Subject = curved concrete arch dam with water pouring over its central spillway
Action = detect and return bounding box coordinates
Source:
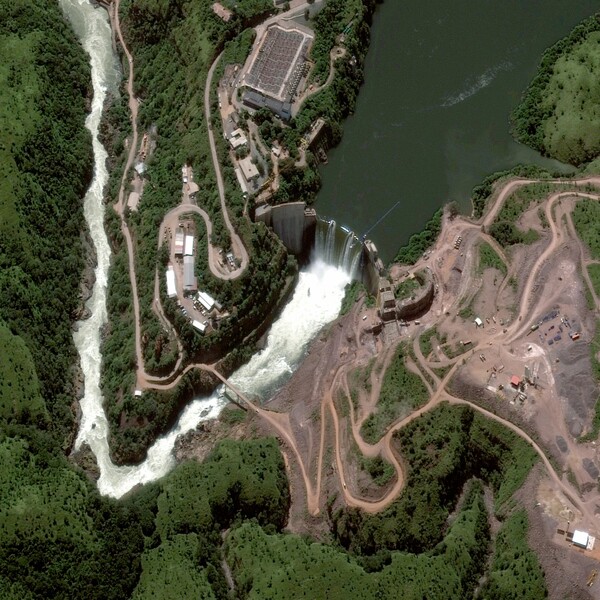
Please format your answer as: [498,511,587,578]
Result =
[256,200,388,301]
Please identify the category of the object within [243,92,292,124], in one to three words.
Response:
building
